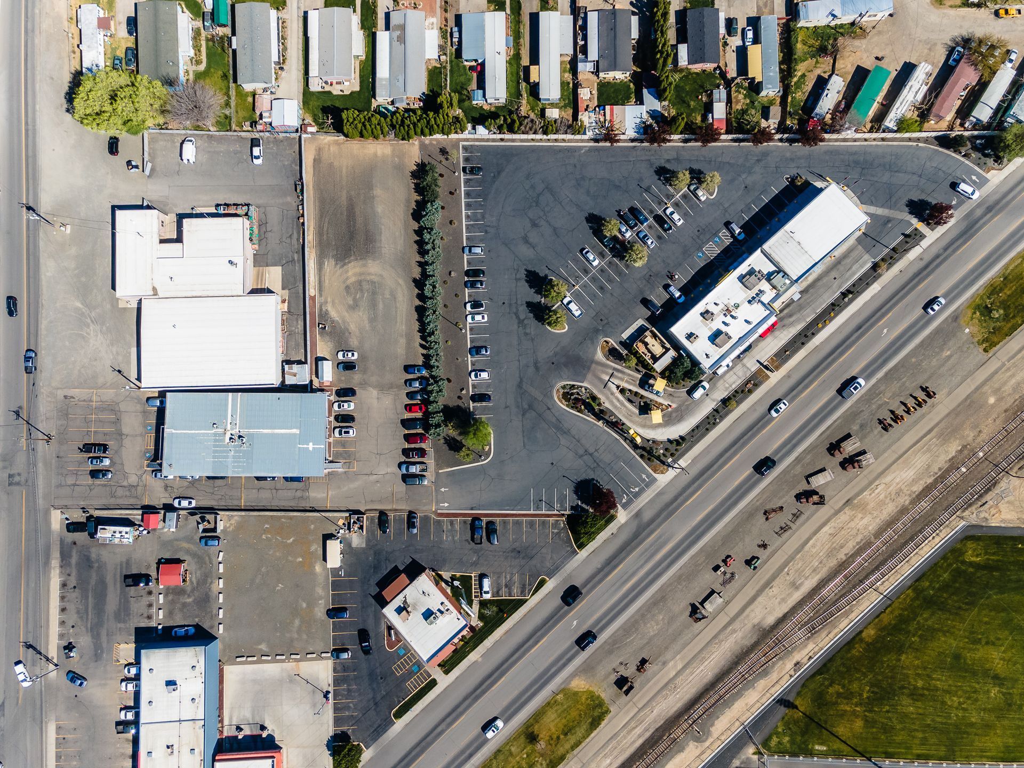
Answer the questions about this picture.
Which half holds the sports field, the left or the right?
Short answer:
right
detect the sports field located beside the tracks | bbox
[768,535,1024,761]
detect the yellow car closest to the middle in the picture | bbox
[628,427,641,444]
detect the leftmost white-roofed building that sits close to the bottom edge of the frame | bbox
[135,637,219,768]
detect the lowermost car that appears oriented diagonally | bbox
[484,717,503,739]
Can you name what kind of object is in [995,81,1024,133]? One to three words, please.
house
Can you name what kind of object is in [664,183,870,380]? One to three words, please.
building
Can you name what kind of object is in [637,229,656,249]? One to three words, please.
car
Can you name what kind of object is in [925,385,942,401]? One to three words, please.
work vehicle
